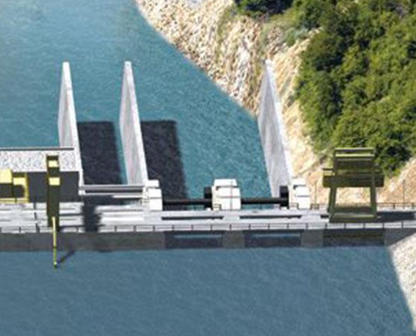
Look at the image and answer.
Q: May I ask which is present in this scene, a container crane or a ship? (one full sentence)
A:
Visible in the photo is a container crane.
